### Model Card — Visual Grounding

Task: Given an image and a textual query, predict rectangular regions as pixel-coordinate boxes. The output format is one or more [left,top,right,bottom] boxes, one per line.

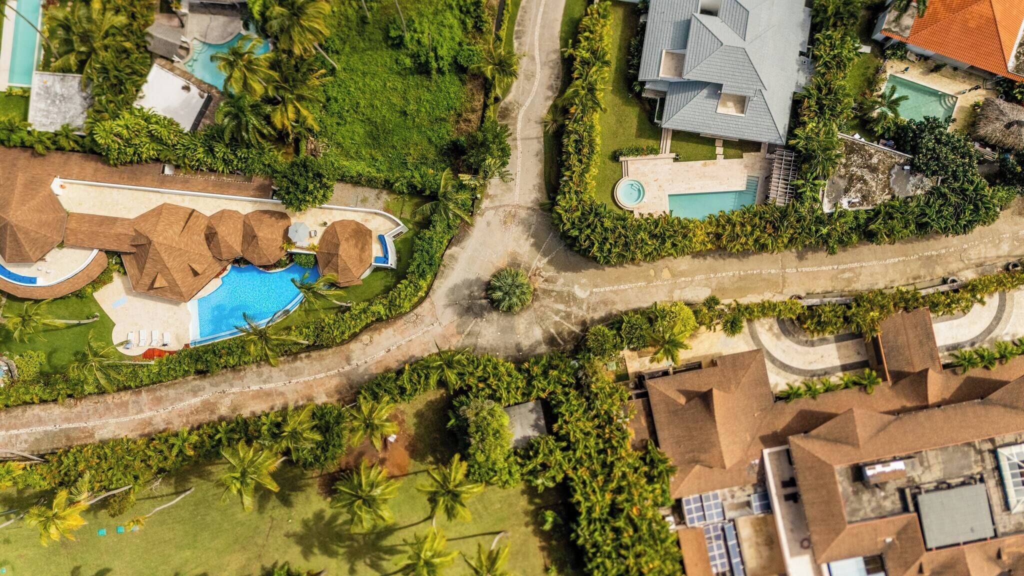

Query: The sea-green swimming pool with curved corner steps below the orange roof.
[885,71,962,140]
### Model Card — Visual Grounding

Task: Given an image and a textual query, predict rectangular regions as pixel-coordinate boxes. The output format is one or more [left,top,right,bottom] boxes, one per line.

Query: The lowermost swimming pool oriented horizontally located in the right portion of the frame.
[669,176,759,225]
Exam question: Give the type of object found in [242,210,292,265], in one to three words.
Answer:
building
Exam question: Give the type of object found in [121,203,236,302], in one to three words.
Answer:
house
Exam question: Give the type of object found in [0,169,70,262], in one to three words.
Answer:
building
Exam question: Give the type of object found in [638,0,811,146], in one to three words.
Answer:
house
